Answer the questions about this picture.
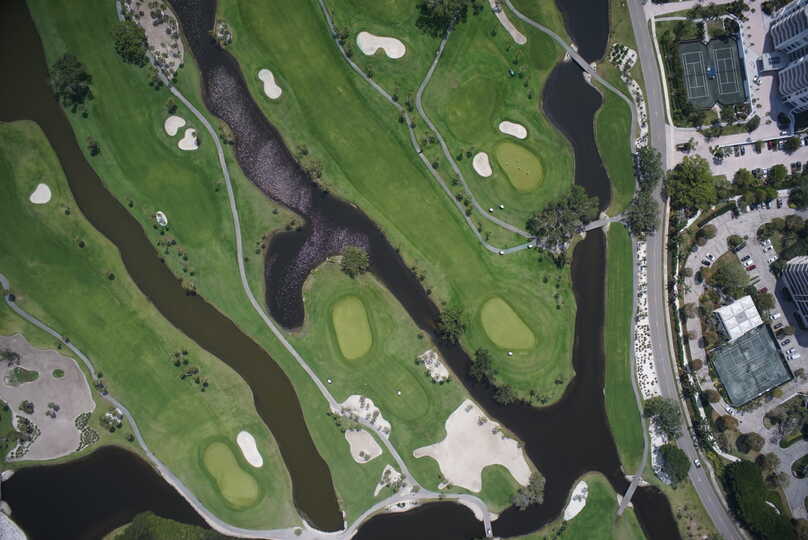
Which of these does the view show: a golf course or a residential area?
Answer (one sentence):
This looks like a golf course.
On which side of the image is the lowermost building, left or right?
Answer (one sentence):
The lowermost building sits on the right side.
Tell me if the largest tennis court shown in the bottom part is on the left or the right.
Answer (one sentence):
The largest tennis court shown in the bottom part is on the right side of the image.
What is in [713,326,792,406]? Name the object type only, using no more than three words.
tennis court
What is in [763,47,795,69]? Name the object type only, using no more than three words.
building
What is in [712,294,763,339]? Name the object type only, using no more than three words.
building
